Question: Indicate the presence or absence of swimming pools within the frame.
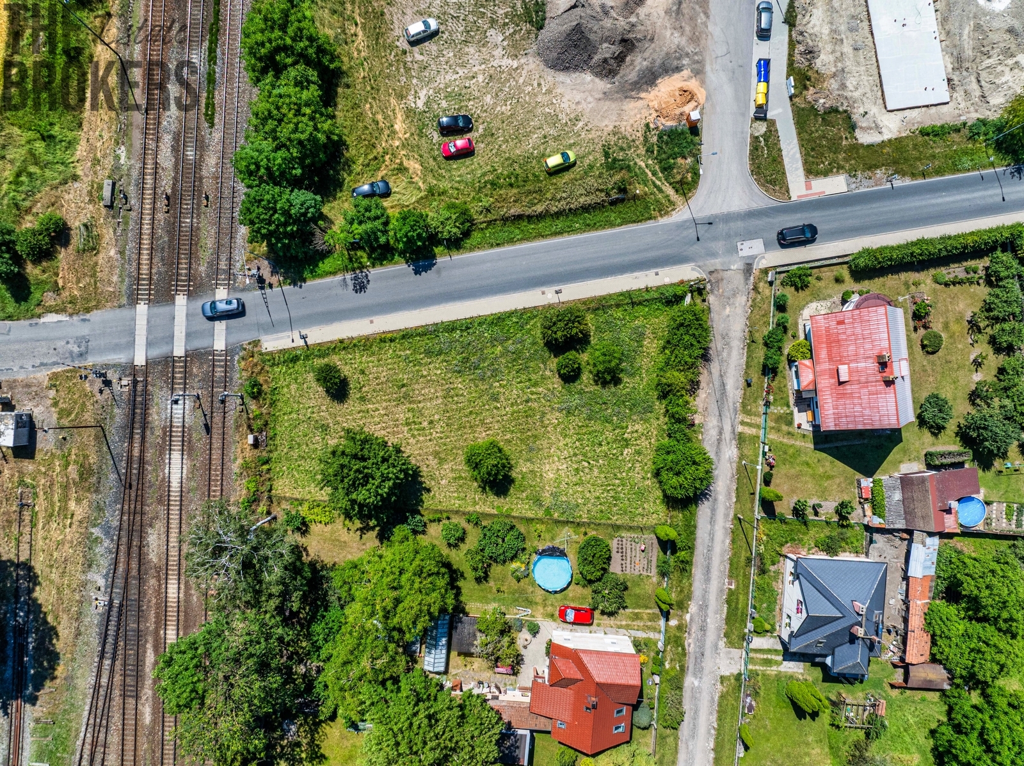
Yes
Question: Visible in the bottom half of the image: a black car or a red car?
red car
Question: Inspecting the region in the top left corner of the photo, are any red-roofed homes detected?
No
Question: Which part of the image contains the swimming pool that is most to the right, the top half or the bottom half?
bottom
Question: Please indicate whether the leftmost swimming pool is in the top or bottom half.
bottom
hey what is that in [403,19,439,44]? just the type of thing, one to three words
car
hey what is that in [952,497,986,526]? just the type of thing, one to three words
swimming pool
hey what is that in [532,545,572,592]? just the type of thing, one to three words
swimming pool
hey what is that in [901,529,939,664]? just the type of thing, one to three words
shed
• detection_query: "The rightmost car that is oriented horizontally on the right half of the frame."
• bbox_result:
[776,224,817,246]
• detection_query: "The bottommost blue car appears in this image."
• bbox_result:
[203,299,245,317]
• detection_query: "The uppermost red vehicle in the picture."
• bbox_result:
[441,138,475,159]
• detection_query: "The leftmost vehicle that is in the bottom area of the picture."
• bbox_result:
[558,605,594,624]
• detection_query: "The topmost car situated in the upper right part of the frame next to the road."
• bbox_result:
[754,2,773,38]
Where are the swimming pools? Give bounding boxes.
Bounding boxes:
[532,545,572,592]
[952,497,986,526]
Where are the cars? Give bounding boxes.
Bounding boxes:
[754,2,773,38]
[352,179,391,201]
[438,115,473,135]
[441,138,475,159]
[203,299,245,317]
[403,19,439,44]
[558,605,594,624]
[776,224,817,246]
[543,151,577,175]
